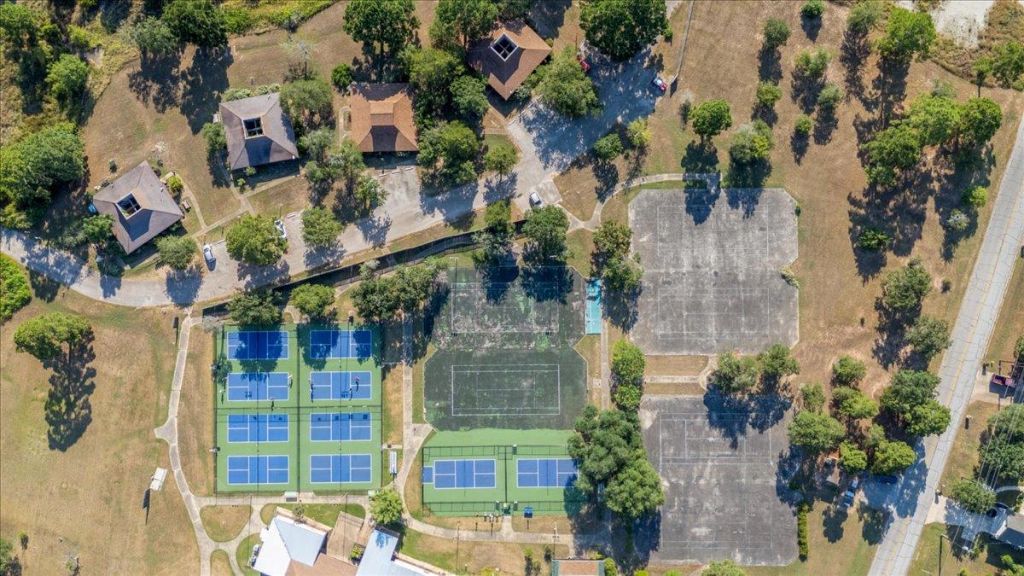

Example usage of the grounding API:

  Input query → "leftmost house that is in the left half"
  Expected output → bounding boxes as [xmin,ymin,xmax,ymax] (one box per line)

[93,161,185,254]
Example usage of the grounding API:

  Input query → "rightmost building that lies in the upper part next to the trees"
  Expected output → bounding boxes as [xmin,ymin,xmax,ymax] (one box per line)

[457,10,552,100]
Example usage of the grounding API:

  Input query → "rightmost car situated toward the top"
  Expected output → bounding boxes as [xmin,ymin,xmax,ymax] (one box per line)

[650,74,670,92]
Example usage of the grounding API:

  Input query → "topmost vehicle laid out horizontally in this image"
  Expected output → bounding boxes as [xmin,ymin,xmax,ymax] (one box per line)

[992,374,1019,388]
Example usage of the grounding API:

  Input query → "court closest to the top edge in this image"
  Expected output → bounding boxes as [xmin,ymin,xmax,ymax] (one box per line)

[629,188,799,266]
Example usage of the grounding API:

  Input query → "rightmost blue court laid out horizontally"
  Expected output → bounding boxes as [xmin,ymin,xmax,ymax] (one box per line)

[517,459,579,488]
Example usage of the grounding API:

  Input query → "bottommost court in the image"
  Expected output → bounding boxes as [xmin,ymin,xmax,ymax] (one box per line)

[643,481,798,566]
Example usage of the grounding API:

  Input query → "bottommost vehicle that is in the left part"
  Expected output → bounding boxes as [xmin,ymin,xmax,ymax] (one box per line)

[201,244,215,266]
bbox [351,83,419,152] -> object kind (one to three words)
house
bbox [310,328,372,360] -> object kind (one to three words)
sports court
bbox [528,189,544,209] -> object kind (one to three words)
car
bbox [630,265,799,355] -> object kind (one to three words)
tennis court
